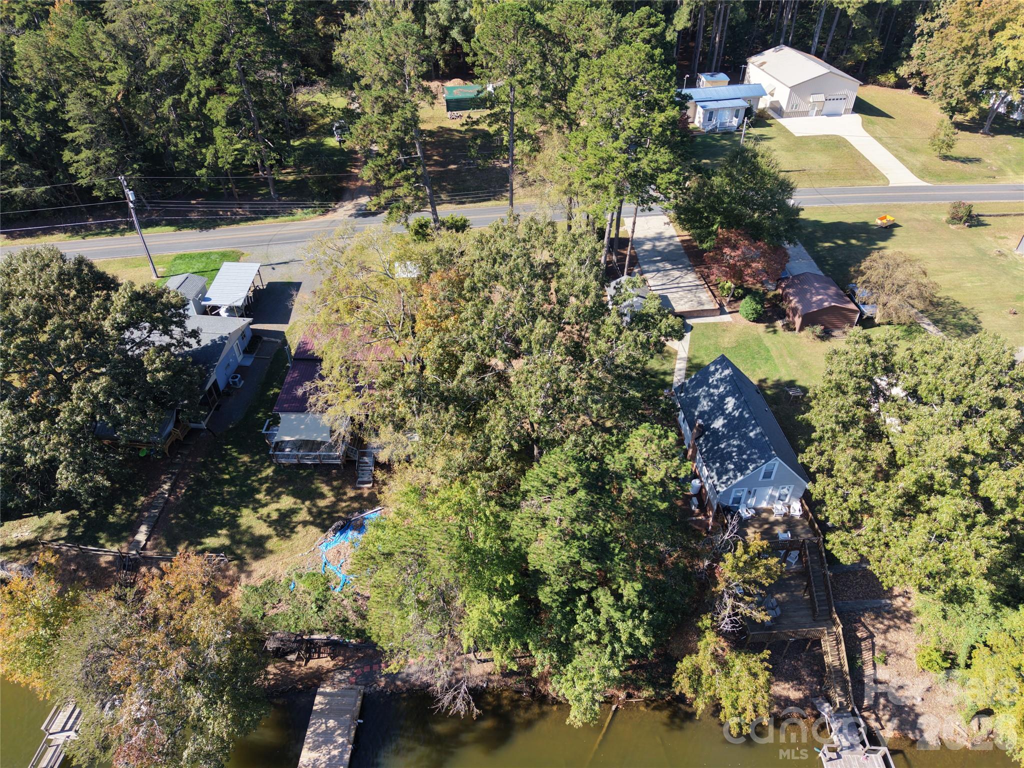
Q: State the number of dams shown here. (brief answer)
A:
0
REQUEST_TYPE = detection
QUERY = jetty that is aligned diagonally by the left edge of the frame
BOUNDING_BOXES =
[26,669,112,768]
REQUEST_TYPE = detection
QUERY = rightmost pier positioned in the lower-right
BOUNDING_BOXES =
[802,682,909,768]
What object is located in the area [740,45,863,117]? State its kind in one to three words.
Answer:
building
